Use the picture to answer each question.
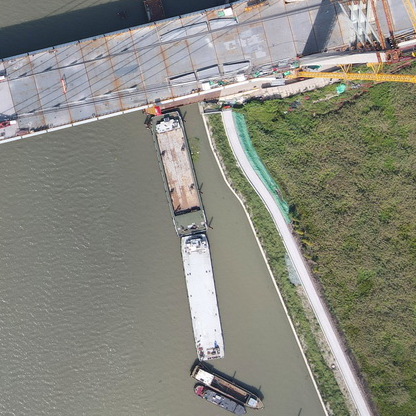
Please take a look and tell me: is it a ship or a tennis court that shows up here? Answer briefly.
ship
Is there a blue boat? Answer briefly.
No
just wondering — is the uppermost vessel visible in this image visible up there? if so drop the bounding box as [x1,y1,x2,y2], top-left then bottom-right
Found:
[154,112,206,237]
